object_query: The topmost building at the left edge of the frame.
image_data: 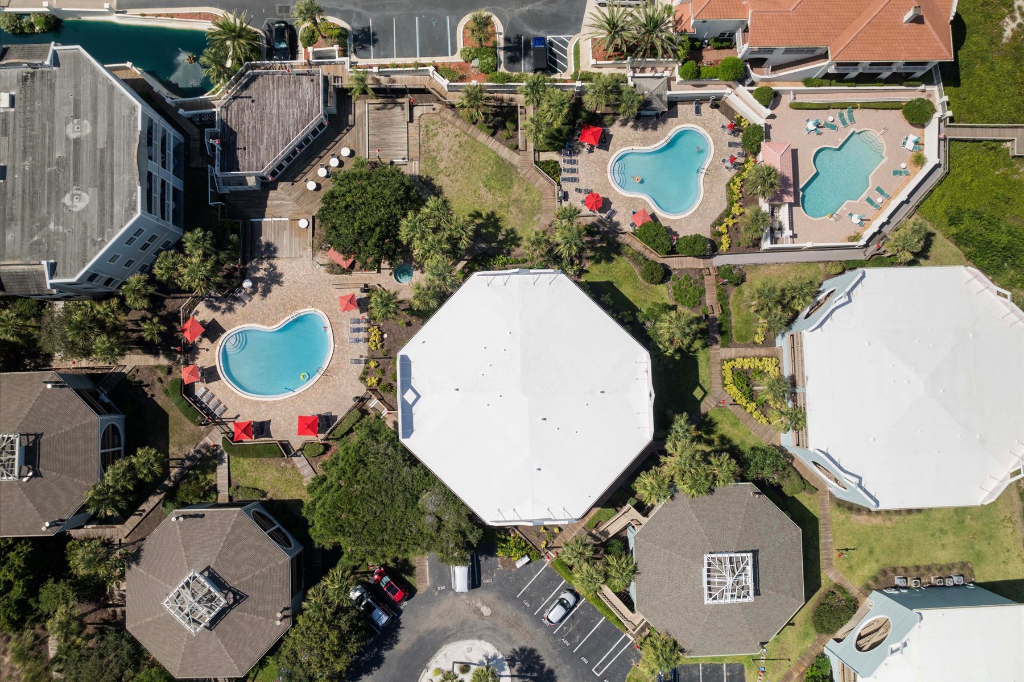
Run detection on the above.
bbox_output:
[0,41,182,292]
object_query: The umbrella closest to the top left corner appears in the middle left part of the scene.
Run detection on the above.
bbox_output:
[182,318,205,341]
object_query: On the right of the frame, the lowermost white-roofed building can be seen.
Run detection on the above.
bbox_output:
[813,582,1024,682]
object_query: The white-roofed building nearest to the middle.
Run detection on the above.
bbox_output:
[394,268,658,530]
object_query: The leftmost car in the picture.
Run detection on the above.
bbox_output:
[271,20,291,62]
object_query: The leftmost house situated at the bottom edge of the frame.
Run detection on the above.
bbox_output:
[125,498,314,678]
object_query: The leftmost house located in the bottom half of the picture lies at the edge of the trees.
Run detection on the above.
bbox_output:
[0,364,132,536]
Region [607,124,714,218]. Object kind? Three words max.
swimming pool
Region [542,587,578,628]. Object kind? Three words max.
car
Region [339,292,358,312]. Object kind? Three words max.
umbrella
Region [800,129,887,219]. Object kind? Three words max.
swimming pool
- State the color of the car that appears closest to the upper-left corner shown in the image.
black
